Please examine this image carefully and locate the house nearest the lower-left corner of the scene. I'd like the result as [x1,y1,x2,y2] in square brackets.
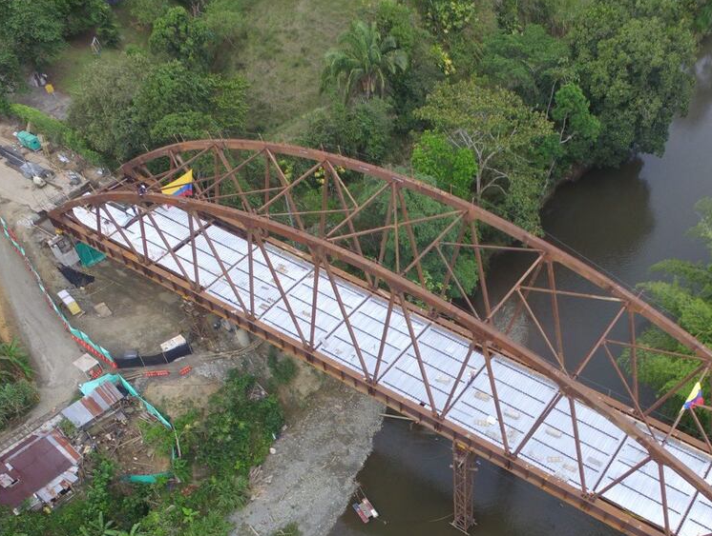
[0,429,88,507]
